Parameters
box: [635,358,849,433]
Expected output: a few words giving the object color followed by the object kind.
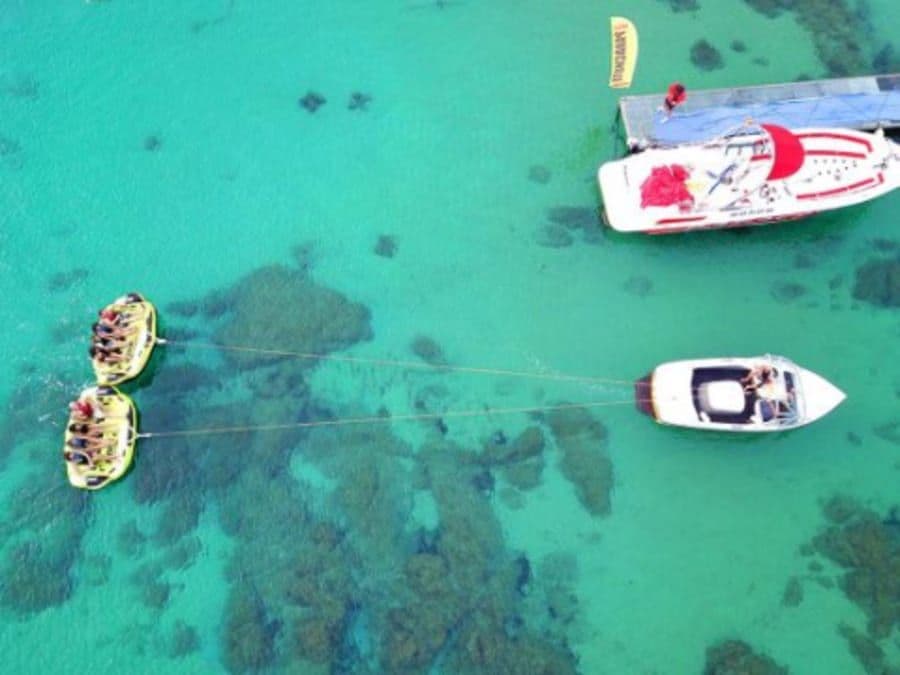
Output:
white boat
